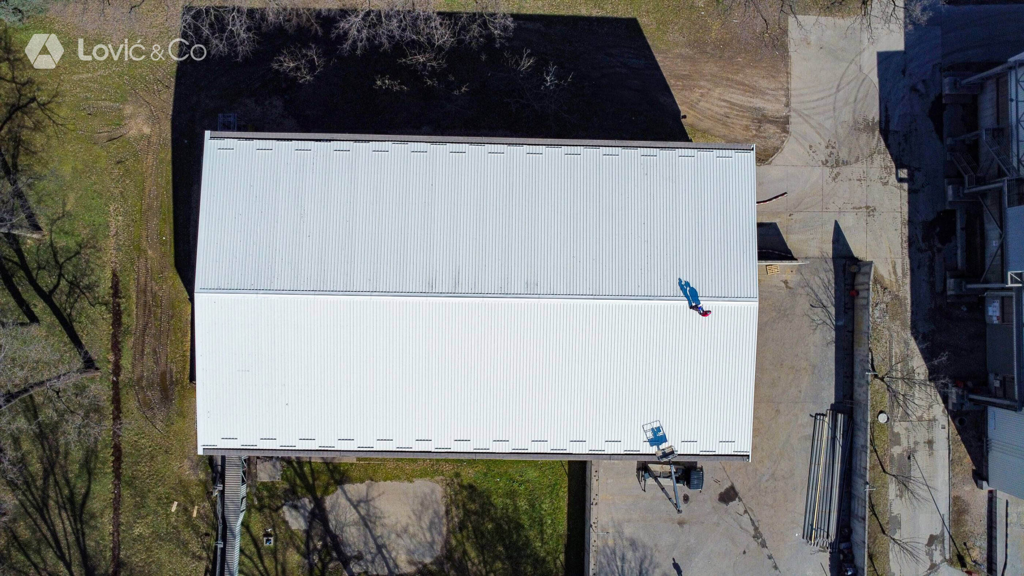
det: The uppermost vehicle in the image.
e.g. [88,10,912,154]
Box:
[636,443,705,515]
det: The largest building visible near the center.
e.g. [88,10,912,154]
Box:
[194,132,758,462]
